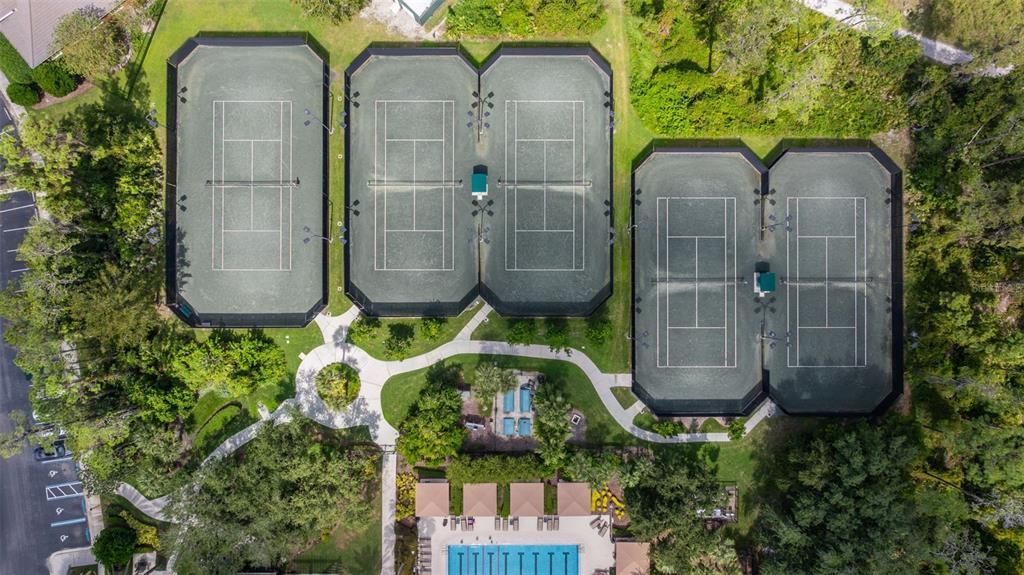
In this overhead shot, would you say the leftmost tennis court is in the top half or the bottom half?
top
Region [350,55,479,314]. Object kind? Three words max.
tennis court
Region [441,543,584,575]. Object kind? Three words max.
swimming pool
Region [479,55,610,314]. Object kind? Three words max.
tennis court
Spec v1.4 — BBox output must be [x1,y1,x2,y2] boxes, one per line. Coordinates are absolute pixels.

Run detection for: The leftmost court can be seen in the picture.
[177,45,322,326]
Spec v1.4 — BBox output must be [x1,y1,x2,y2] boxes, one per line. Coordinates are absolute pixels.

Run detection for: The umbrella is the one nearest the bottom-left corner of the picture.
[418,519,434,536]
